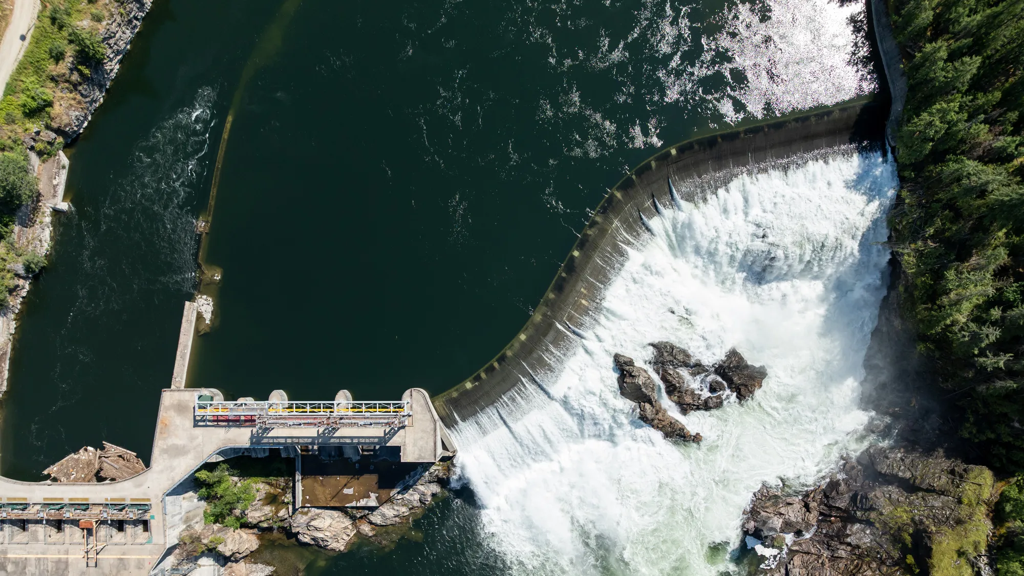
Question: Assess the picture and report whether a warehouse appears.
No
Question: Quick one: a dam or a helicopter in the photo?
dam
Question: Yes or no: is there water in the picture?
Yes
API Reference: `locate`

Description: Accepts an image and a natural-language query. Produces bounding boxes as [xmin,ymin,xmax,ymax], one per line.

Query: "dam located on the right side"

[432,94,881,438]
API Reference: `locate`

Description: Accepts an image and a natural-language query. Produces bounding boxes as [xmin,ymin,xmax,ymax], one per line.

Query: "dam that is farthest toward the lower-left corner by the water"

[0,388,458,576]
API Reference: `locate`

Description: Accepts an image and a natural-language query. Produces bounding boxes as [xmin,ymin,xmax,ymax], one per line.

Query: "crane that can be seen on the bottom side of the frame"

[80,518,108,562]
